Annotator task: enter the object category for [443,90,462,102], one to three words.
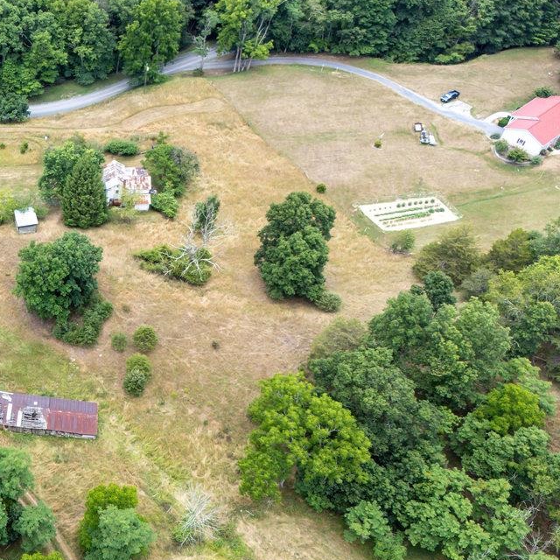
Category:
vehicle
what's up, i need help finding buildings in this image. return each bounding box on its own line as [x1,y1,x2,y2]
[107,162,165,210]
[12,207,38,234]
[500,102,560,154]
[0,390,101,444]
